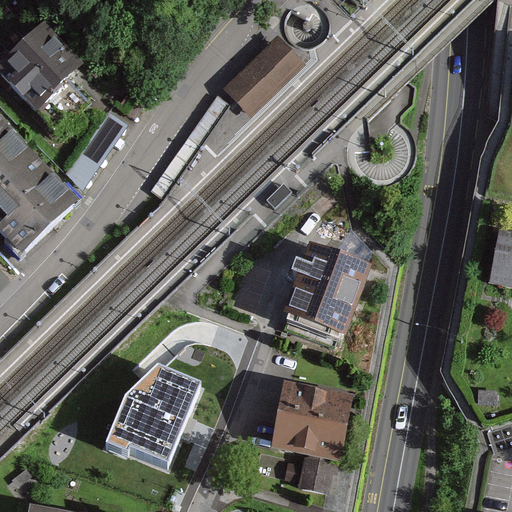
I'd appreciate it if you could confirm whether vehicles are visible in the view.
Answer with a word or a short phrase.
Yes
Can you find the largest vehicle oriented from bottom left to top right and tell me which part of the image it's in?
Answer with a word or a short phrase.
center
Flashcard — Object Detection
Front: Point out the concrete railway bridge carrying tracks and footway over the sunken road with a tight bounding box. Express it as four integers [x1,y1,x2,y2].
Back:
[360,0,494,129]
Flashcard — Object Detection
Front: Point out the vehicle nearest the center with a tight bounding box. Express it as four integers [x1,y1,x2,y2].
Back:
[299,213,320,236]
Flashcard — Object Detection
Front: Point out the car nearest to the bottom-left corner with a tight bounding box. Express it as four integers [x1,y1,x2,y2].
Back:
[48,276,65,294]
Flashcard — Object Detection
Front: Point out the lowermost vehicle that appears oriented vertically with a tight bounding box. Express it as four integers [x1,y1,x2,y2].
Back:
[396,406,408,430]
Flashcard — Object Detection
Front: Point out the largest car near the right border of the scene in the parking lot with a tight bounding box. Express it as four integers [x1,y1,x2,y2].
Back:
[484,498,508,510]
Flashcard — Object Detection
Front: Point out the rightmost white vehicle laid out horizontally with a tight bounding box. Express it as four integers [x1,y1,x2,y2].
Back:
[275,356,298,369]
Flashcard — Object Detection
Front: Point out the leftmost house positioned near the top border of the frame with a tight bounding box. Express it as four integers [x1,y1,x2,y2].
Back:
[0,22,84,112]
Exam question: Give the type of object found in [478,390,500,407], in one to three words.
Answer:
shed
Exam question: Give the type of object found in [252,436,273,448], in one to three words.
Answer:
vehicle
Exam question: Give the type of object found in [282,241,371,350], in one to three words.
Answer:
house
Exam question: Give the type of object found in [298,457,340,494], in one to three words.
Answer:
building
